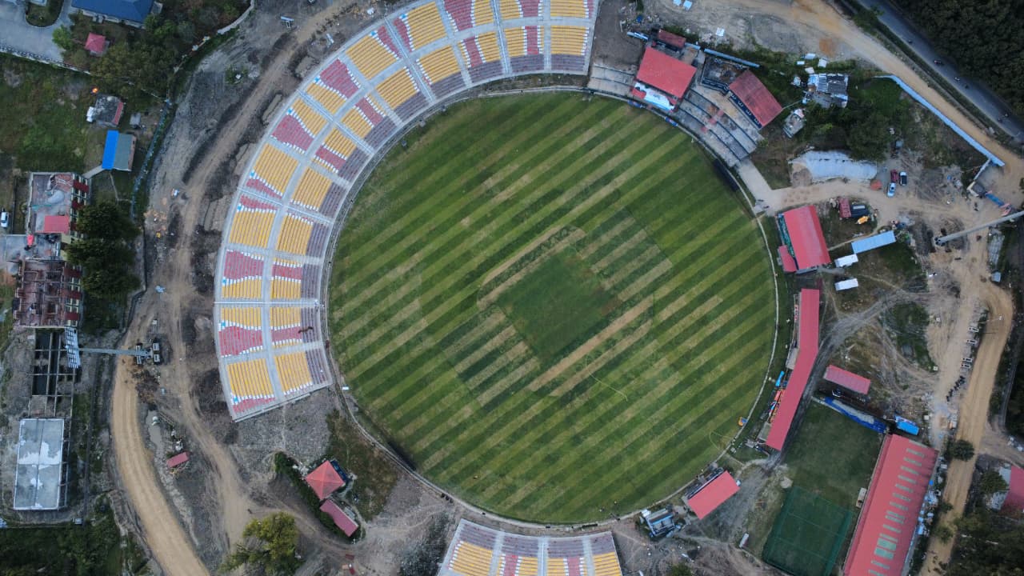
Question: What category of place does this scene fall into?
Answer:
sports ground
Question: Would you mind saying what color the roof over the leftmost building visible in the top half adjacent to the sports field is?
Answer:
red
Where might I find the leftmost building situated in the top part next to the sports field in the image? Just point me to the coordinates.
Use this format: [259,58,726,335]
[628,47,696,117]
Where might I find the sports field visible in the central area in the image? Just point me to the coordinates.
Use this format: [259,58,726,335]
[322,85,778,531]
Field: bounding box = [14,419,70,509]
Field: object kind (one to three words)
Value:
building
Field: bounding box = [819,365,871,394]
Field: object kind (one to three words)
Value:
shed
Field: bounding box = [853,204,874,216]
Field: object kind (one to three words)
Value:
vehicle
